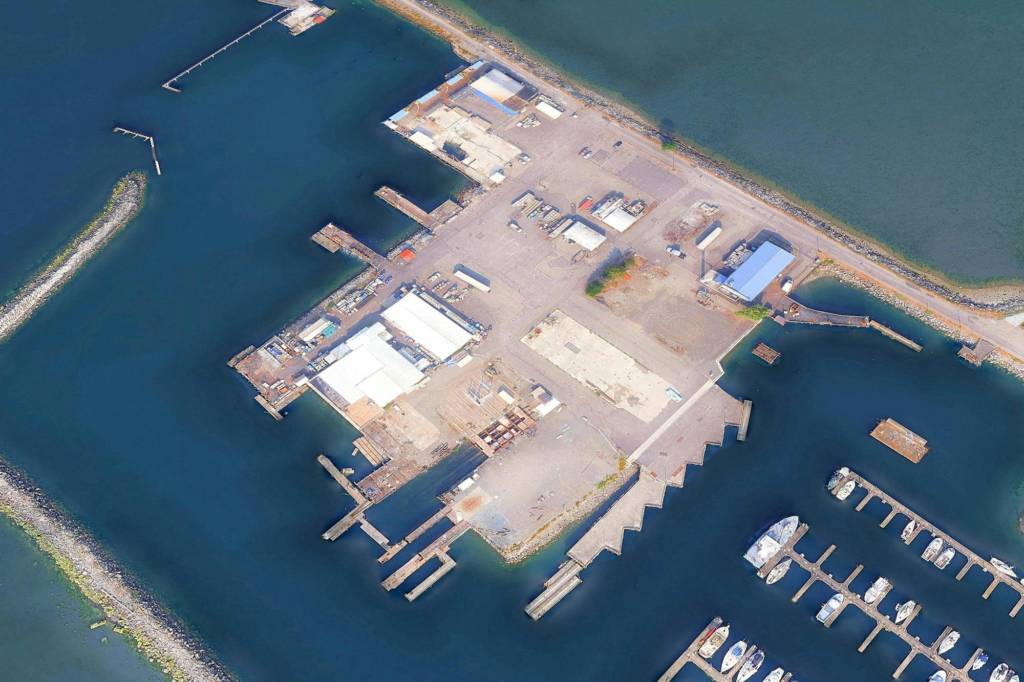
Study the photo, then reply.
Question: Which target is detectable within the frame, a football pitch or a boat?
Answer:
boat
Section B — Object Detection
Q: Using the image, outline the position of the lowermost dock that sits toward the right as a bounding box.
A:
[661,618,757,682]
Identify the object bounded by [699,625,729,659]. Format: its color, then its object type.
white boat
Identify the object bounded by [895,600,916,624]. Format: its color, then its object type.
white boat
